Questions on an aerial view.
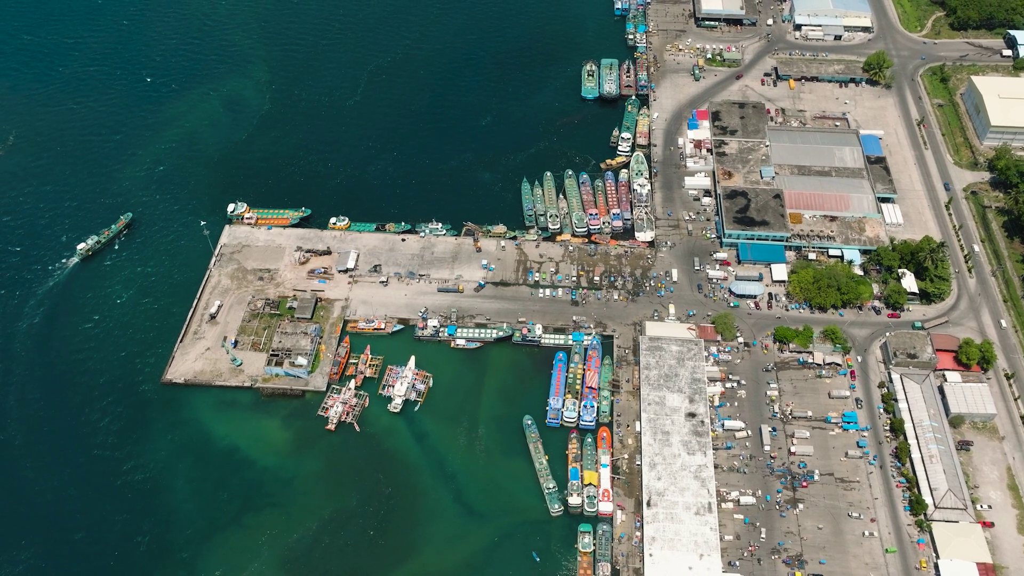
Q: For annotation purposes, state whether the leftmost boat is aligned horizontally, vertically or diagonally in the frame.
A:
diagonally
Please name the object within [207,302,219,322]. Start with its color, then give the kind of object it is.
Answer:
white vehicle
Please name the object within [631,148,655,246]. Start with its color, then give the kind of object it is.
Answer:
white vessel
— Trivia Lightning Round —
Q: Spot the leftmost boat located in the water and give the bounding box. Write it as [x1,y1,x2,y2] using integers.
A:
[71,211,133,266]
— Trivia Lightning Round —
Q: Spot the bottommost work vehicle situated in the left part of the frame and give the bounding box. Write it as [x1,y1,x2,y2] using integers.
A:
[224,341,241,371]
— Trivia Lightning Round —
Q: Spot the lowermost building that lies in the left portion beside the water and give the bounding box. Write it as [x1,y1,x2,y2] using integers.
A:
[264,320,322,380]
